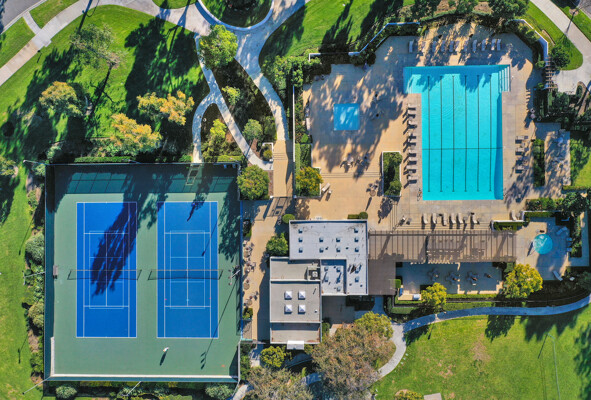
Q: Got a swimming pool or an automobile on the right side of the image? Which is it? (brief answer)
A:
swimming pool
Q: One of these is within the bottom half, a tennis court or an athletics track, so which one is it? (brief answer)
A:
tennis court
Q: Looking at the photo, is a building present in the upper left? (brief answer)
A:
No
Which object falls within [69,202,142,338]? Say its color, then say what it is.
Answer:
blue tennis court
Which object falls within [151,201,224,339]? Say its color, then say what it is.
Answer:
blue tennis court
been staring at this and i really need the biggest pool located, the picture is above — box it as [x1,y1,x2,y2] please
[403,63,513,201]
